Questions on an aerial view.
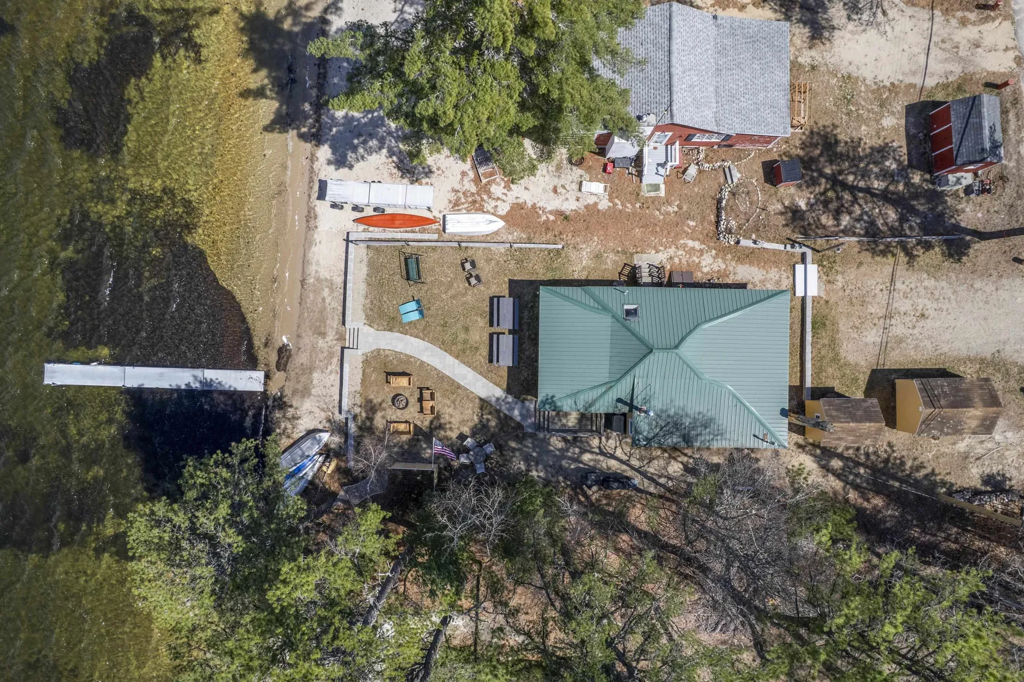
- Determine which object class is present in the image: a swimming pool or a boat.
boat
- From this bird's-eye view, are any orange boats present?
Yes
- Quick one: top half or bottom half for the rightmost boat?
top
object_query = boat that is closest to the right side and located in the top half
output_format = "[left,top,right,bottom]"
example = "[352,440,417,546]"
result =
[443,212,505,235]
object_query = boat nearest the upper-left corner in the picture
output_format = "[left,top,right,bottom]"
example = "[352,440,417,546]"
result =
[354,213,436,230]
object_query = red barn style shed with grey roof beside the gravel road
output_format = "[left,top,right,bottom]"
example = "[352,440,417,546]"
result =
[929,94,1004,173]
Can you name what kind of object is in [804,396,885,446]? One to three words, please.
shed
